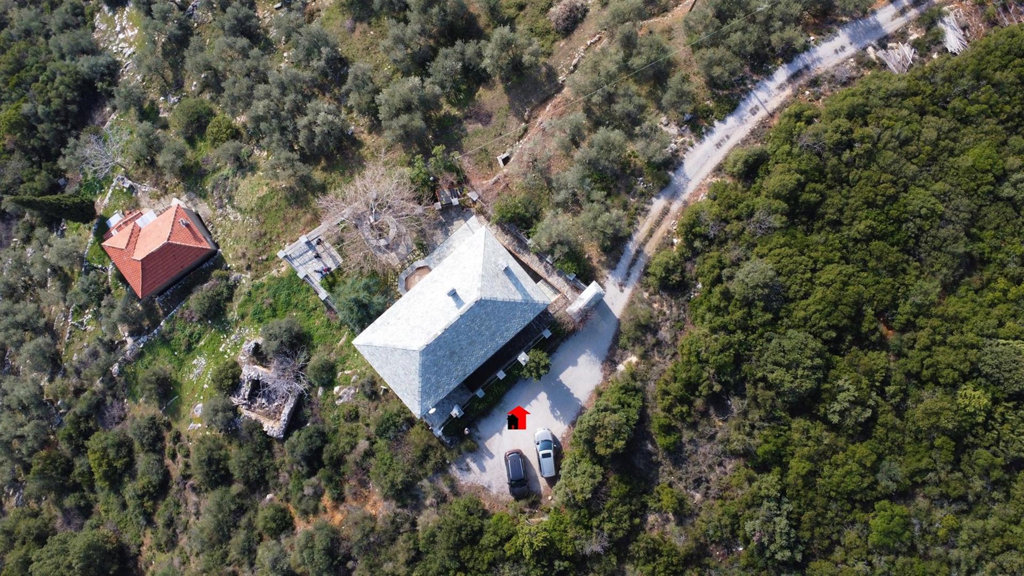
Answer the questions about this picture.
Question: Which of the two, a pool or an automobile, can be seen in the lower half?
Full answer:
The one visible in the lower half is an automobile.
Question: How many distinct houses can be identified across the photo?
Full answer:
In total, 2 houses can be seen.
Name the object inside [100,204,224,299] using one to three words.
house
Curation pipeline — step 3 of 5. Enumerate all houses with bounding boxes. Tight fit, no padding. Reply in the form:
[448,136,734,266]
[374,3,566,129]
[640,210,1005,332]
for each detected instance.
[100,204,224,299]
[351,225,551,419]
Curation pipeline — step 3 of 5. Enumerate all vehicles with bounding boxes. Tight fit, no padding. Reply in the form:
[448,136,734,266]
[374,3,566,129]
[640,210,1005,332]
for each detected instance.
[534,426,559,480]
[505,449,530,498]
